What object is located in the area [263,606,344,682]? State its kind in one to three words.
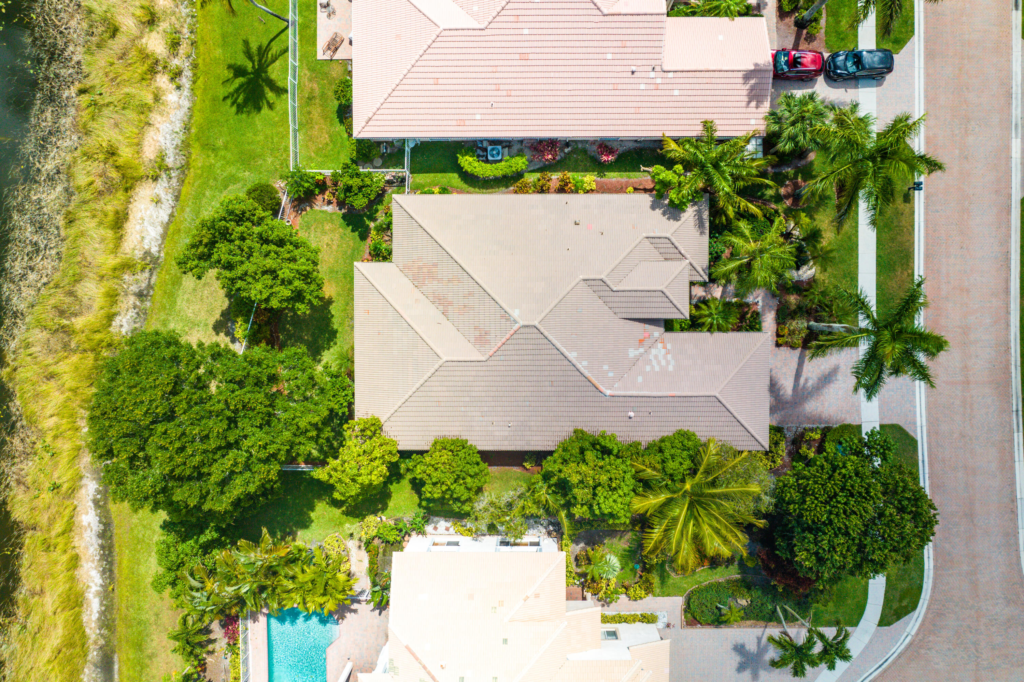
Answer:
swimming pool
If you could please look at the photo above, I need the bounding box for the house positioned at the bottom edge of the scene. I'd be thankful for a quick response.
[357,537,671,682]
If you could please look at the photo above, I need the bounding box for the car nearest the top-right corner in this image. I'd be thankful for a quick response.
[824,42,894,79]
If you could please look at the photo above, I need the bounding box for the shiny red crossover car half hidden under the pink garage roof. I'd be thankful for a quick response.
[770,44,825,80]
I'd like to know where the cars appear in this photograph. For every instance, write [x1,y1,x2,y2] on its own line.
[824,42,894,79]
[770,44,825,80]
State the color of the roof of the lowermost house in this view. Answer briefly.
white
